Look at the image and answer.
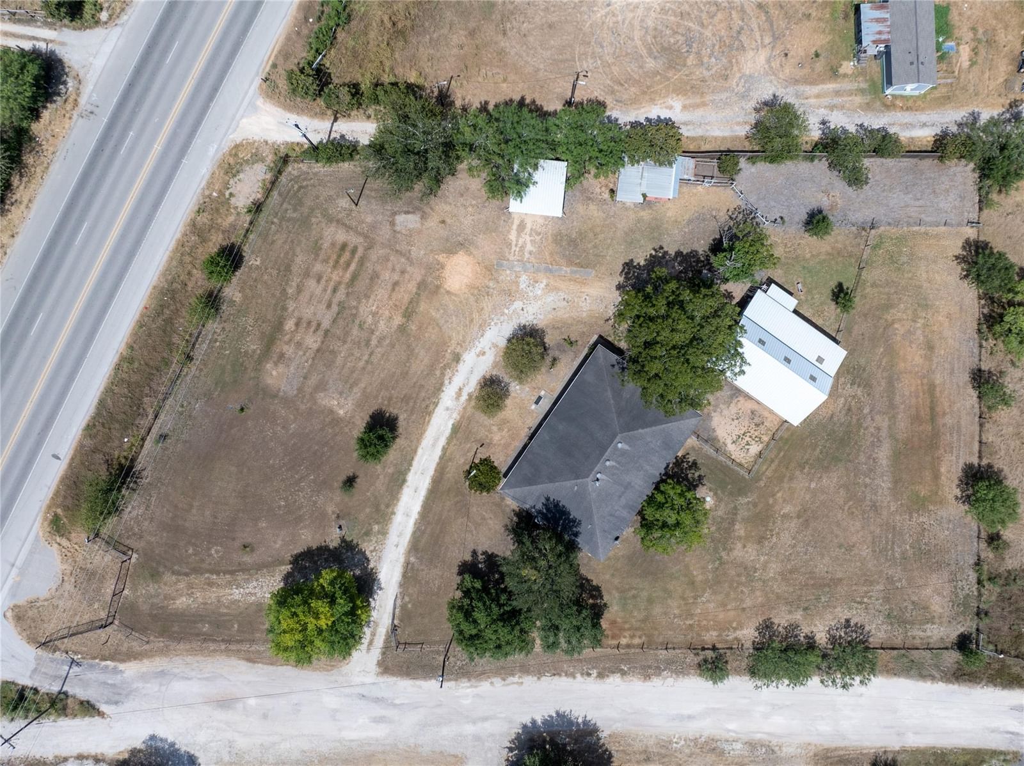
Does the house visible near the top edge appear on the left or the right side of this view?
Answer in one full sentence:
The house visible near the top edge appears in the right half of the scene.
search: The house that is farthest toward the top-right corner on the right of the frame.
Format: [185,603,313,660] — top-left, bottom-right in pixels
[851,0,937,98]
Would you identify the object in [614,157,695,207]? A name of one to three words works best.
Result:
shed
